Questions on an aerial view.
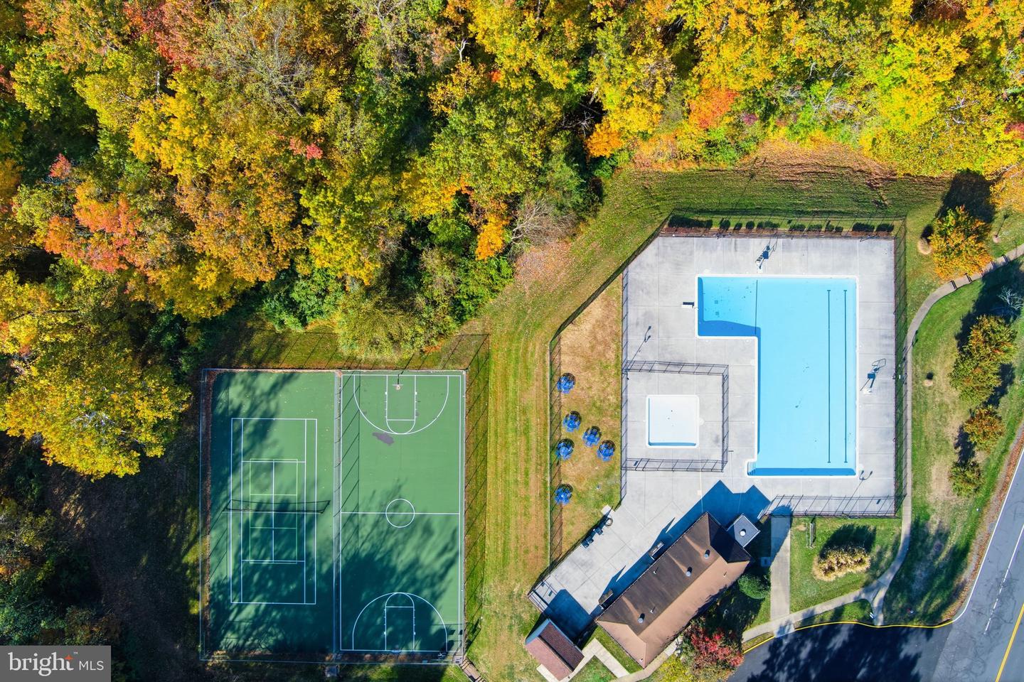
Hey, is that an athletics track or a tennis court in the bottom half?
tennis court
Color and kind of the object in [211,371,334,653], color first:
green tennis court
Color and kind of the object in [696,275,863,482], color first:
blue swimming pool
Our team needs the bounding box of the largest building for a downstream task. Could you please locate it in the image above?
[595,511,753,668]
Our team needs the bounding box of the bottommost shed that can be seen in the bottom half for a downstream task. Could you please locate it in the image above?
[526,620,585,681]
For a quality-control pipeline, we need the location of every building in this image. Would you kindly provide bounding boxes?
[595,511,753,668]
[526,620,585,681]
